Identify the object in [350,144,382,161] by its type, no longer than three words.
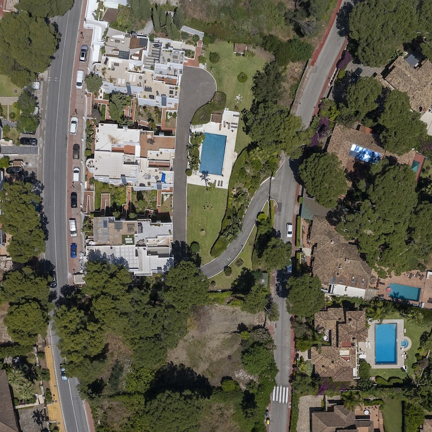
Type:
solar panel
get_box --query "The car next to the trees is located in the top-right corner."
[350,67,362,83]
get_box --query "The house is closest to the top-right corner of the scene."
[376,53,432,114]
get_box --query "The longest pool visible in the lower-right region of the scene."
[374,321,398,379]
